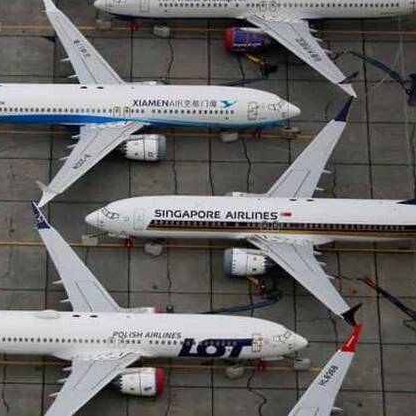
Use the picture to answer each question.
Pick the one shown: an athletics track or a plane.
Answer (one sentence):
Of the two, only a plane appears.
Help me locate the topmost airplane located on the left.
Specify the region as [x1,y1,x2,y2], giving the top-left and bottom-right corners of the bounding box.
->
[0,0,301,205]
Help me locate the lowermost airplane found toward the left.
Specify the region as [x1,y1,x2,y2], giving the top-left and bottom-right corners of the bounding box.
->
[0,202,308,416]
